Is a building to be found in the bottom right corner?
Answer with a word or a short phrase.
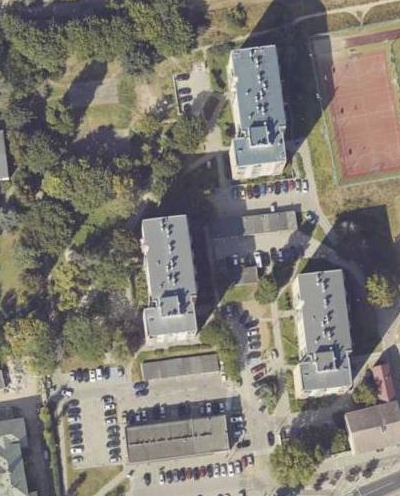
Yes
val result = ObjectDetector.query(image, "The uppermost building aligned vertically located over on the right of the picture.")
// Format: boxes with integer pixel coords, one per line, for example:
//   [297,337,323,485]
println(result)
[230,45,287,181]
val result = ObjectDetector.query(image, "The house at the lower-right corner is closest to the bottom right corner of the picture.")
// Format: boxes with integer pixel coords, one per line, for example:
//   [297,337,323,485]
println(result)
[345,402,400,454]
